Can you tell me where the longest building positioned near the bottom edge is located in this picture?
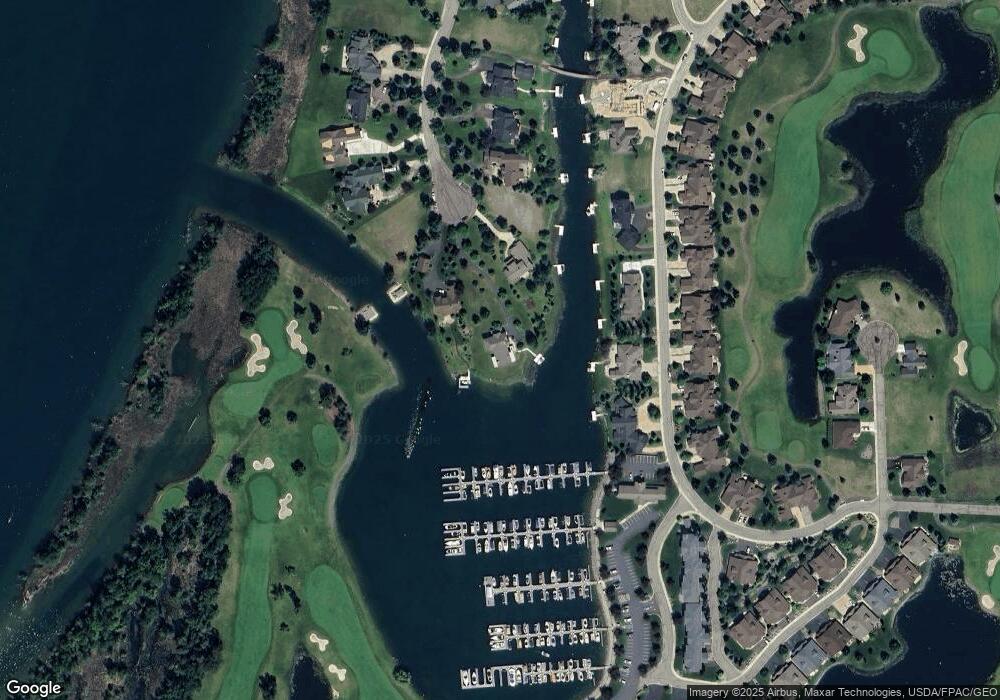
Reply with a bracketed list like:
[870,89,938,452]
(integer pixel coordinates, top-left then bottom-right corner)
[680,534,713,669]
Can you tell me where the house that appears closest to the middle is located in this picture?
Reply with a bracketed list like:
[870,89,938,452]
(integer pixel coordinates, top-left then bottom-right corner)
[481,328,516,369]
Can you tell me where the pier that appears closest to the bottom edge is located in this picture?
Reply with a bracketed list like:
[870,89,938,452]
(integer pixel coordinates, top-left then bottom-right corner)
[460,659,611,689]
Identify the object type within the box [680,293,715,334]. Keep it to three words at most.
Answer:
house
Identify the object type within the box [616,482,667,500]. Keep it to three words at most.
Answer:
building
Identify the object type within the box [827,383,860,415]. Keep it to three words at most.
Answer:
house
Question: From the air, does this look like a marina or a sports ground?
marina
